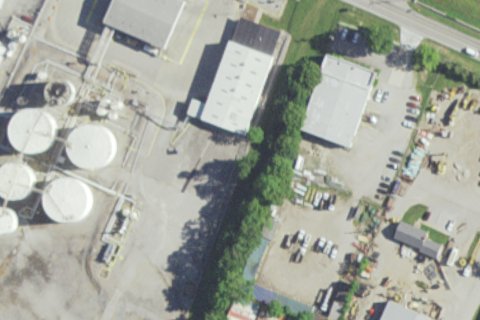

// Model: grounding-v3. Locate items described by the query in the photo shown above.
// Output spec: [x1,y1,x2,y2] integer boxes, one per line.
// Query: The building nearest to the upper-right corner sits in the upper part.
[300,56,376,147]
